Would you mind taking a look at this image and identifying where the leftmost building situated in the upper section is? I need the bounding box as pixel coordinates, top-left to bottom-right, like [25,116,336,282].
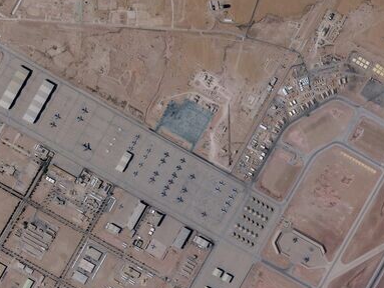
[0,67,29,108]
